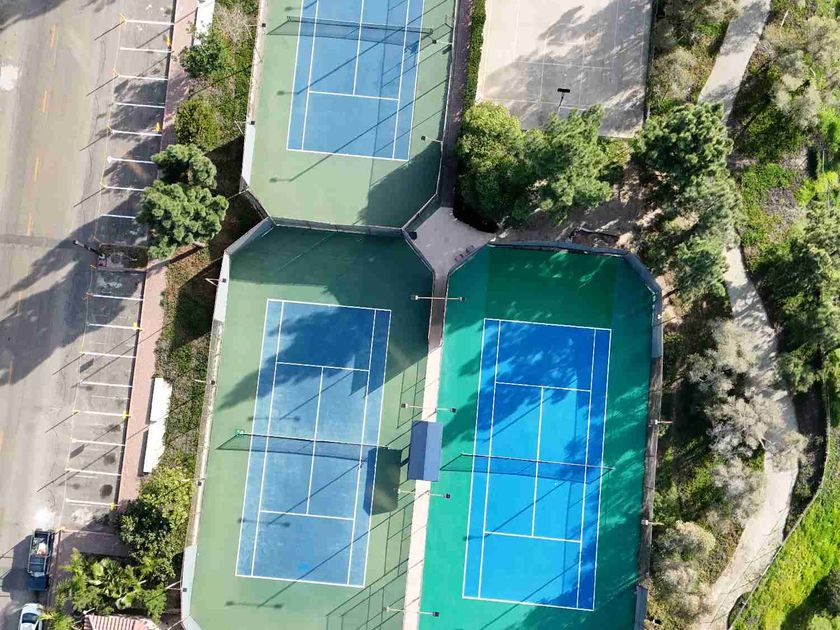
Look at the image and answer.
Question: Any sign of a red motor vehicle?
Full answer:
No, no red motor vehicle is visible in the view.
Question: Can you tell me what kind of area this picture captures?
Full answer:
What you see here is a sports ground.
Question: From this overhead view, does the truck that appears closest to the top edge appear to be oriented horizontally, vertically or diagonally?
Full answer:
The truck that appears closest to the top edge runs vertically in the image.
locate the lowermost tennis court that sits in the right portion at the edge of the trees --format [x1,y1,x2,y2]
[418,245,655,630]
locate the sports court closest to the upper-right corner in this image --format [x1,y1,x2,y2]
[476,0,652,139]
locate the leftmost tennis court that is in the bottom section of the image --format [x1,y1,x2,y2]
[193,228,432,630]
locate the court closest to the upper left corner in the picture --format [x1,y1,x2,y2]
[250,0,455,230]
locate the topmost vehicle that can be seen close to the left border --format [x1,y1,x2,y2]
[25,526,57,592]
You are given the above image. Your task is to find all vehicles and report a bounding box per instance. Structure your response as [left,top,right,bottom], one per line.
[18,602,46,630]
[25,526,57,592]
